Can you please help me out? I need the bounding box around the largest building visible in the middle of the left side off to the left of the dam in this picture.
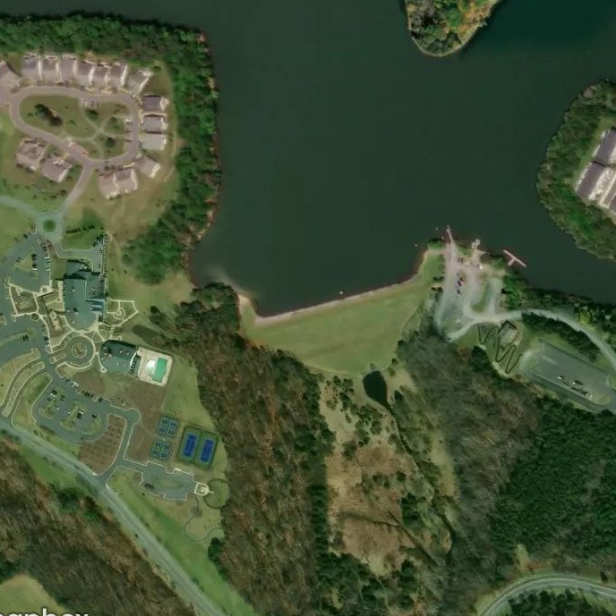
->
[64,259,106,331]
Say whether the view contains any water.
Yes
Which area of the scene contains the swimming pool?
left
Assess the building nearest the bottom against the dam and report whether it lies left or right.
left of it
